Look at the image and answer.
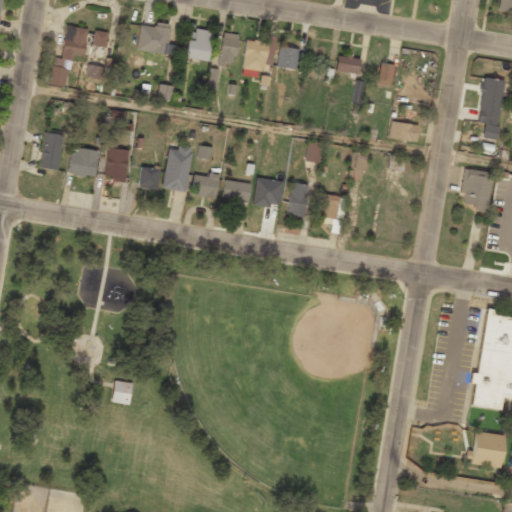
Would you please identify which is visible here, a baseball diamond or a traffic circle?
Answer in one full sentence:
I can see a baseball diamond in this picture.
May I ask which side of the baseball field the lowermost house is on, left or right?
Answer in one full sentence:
Relative to the baseball field, the lowermost house is on the right.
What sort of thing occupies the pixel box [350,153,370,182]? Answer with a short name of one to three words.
house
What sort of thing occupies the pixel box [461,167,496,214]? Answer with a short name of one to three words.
building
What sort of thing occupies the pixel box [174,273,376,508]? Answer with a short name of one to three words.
baseball field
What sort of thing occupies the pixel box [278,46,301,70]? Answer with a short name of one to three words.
house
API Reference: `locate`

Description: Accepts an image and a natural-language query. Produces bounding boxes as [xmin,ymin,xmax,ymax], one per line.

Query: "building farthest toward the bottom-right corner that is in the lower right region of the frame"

[468,432,506,468]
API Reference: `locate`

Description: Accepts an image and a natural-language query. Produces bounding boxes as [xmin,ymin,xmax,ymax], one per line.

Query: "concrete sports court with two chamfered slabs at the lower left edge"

[14,486,84,512]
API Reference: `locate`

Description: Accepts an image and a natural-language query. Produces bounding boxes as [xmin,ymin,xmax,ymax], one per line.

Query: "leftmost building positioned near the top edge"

[50,22,89,88]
